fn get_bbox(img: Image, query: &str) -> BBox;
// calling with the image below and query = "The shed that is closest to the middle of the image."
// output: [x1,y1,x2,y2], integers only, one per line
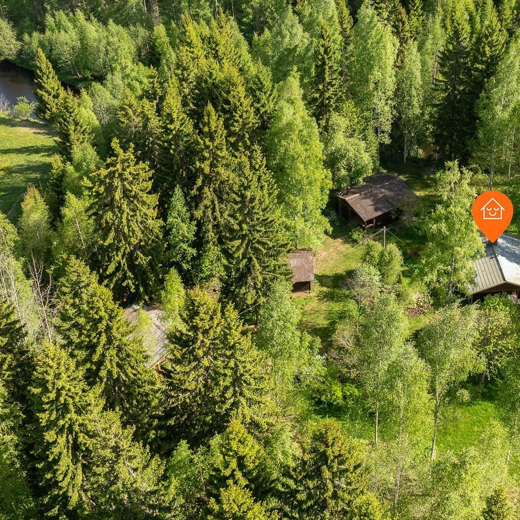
[289,253,318,300]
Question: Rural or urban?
rural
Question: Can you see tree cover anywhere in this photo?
Yes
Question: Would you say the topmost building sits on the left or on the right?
right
